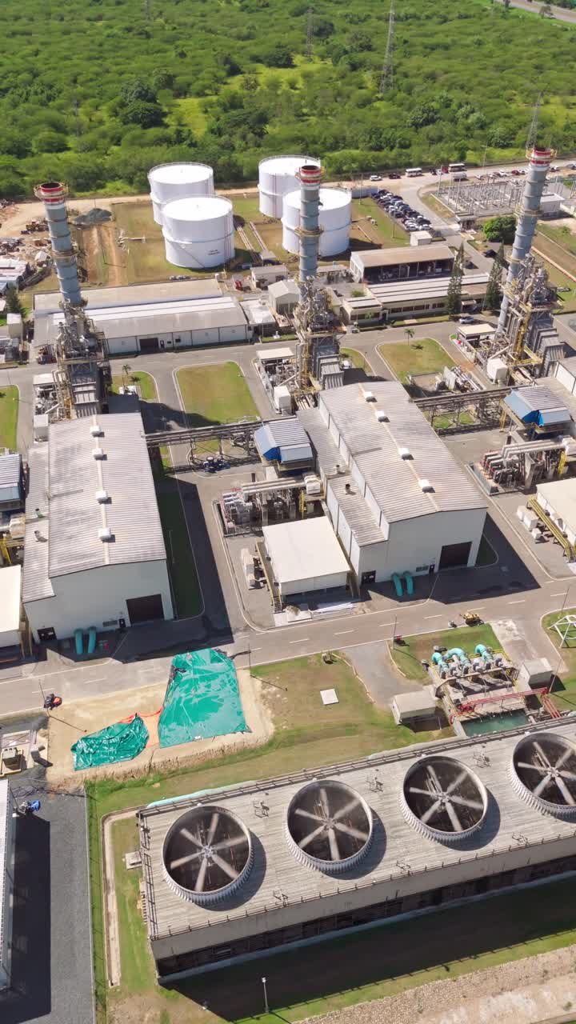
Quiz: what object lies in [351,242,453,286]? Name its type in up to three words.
building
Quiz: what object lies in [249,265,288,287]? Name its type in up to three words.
shed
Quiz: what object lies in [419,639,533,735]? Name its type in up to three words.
building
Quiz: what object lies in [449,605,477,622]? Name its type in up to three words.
work vehicle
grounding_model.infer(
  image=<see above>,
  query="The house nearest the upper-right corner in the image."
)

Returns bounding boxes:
[536,193,566,214]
